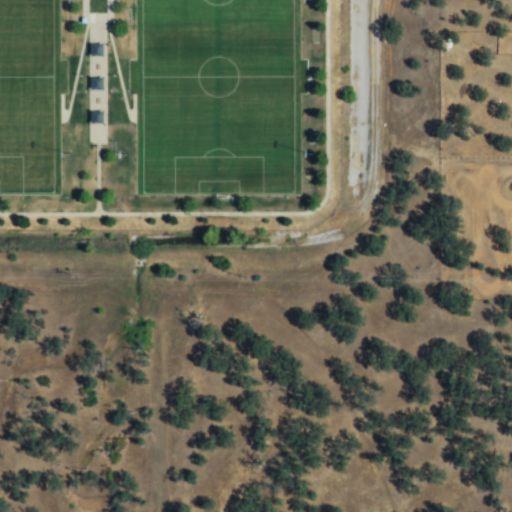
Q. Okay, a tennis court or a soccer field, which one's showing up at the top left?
soccer field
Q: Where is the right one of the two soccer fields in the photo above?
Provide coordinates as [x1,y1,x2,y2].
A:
[130,0,308,195]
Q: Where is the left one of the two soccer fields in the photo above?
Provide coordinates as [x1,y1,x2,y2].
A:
[0,0,68,194]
